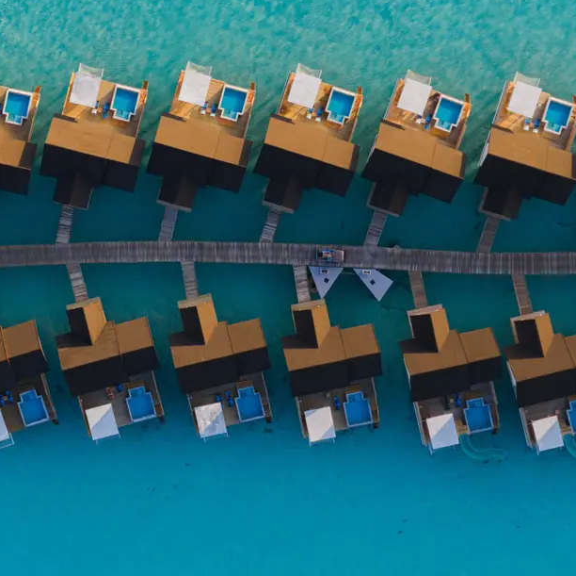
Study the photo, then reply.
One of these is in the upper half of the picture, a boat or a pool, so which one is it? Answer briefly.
pool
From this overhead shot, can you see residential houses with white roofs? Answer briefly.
No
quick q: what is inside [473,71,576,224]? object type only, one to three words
house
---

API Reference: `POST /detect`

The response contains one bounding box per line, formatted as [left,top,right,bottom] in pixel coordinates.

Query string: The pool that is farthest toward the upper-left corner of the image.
[3,90,33,127]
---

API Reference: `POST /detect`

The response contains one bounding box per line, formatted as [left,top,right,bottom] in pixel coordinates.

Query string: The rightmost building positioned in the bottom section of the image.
[504,309,576,454]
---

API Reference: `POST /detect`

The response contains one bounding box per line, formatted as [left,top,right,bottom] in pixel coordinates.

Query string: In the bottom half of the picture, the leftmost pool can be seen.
[18,393,49,429]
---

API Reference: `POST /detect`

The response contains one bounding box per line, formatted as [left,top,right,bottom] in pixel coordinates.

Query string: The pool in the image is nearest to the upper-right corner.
[542,97,574,134]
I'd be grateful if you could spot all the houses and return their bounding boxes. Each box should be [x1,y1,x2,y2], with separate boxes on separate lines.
[254,61,365,216]
[41,61,151,214]
[0,320,61,452]
[399,305,503,451]
[149,61,258,214]
[56,297,167,441]
[473,71,576,224]
[361,67,473,221]
[504,309,576,454]
[0,86,44,199]
[280,300,383,444]
[168,296,273,440]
